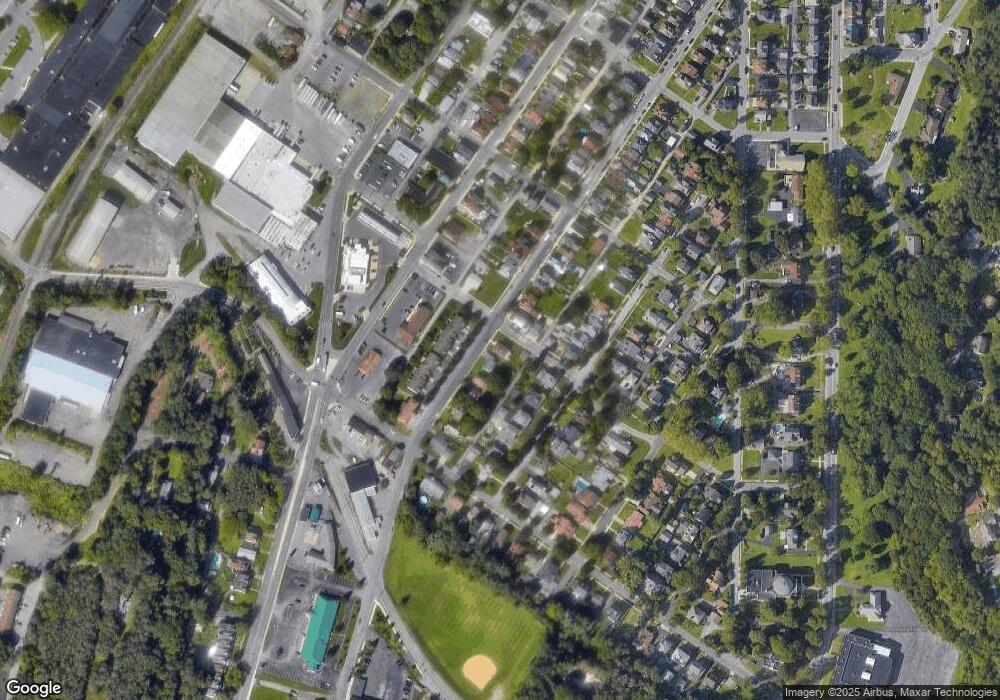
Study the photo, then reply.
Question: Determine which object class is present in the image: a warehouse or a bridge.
warehouse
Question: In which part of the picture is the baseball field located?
bottom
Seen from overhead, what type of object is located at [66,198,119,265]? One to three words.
shed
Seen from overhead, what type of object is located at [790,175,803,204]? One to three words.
house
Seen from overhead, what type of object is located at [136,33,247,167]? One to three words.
warehouse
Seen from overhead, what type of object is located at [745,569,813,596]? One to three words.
building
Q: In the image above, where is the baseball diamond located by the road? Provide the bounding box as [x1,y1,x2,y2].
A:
[382,504,546,700]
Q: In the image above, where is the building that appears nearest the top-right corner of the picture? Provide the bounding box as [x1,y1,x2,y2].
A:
[950,26,970,58]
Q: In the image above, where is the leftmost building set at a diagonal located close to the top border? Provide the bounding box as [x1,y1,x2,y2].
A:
[0,0,176,193]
